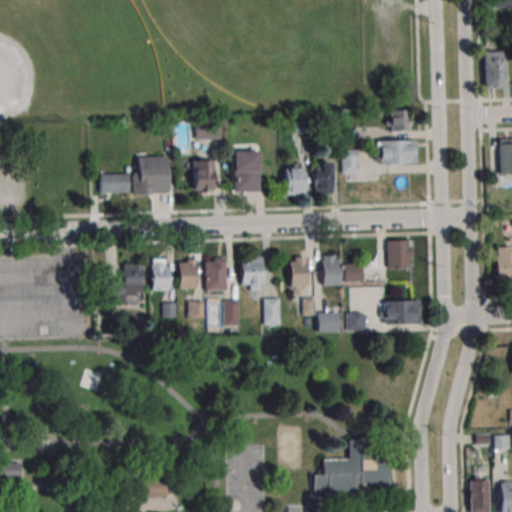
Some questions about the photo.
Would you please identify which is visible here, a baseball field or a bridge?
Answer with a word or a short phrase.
baseball field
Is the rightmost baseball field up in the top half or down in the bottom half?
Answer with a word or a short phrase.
top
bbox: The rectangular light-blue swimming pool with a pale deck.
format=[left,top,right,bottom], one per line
[176,120,192,156]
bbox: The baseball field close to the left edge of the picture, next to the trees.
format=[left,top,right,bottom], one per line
[0,0,164,118]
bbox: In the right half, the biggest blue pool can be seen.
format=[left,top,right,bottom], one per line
[394,176,408,190]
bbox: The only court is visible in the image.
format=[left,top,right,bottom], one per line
[277,424,302,470]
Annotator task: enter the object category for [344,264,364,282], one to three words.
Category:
building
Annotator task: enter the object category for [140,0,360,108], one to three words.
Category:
baseball field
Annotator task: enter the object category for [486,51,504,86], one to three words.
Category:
house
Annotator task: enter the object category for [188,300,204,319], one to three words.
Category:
building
